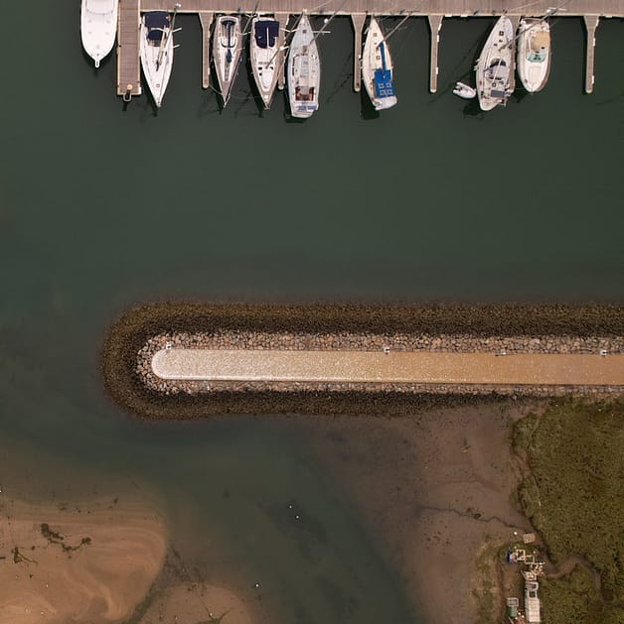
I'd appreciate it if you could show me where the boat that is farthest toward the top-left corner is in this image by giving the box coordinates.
[80,0,117,67]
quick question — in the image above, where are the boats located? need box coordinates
[449,81,476,97]
[513,18,551,92]
[141,0,183,107]
[363,0,429,112]
[212,1,260,107]
[285,0,346,121]
[249,6,306,108]
[80,0,117,67]
[476,0,574,116]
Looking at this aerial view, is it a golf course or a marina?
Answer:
marina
